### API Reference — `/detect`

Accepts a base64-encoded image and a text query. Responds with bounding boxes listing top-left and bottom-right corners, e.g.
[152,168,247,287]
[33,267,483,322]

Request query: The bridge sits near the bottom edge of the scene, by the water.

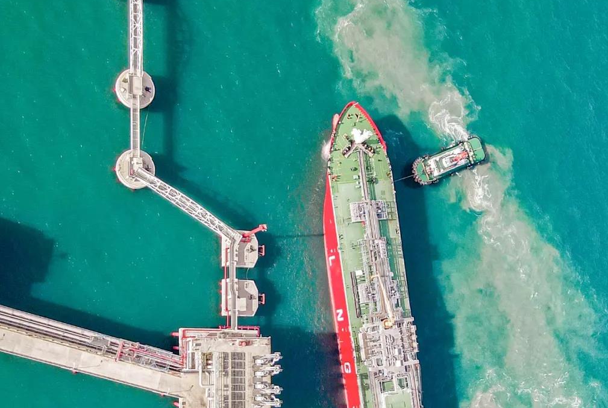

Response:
[0,323,182,397]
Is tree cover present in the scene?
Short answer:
No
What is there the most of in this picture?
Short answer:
water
